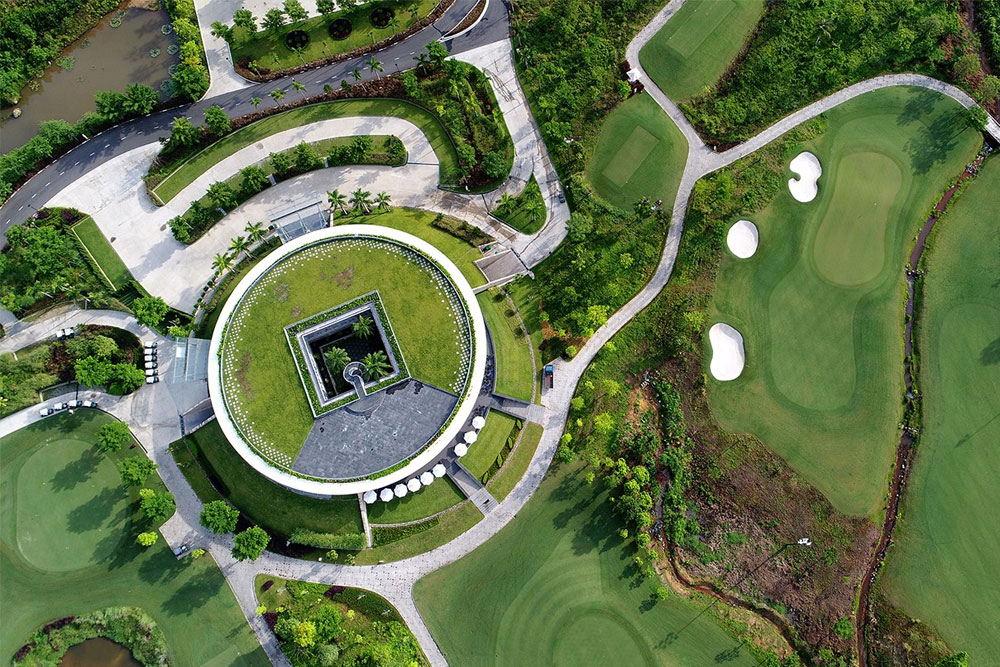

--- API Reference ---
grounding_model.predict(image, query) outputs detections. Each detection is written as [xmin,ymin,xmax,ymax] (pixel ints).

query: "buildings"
[627,68,644,89]
[210,224,486,495]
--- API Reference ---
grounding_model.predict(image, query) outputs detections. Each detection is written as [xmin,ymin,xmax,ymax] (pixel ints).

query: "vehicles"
[65,327,77,340]
[146,369,161,377]
[145,362,160,369]
[558,189,565,202]
[83,400,101,409]
[57,328,68,342]
[67,400,84,408]
[144,349,160,355]
[54,402,70,410]
[145,355,160,362]
[145,342,160,349]
[40,408,58,417]
[146,377,161,384]
[545,362,556,389]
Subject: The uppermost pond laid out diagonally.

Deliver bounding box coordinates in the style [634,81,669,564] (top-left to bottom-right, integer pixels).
[0,11,180,169]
